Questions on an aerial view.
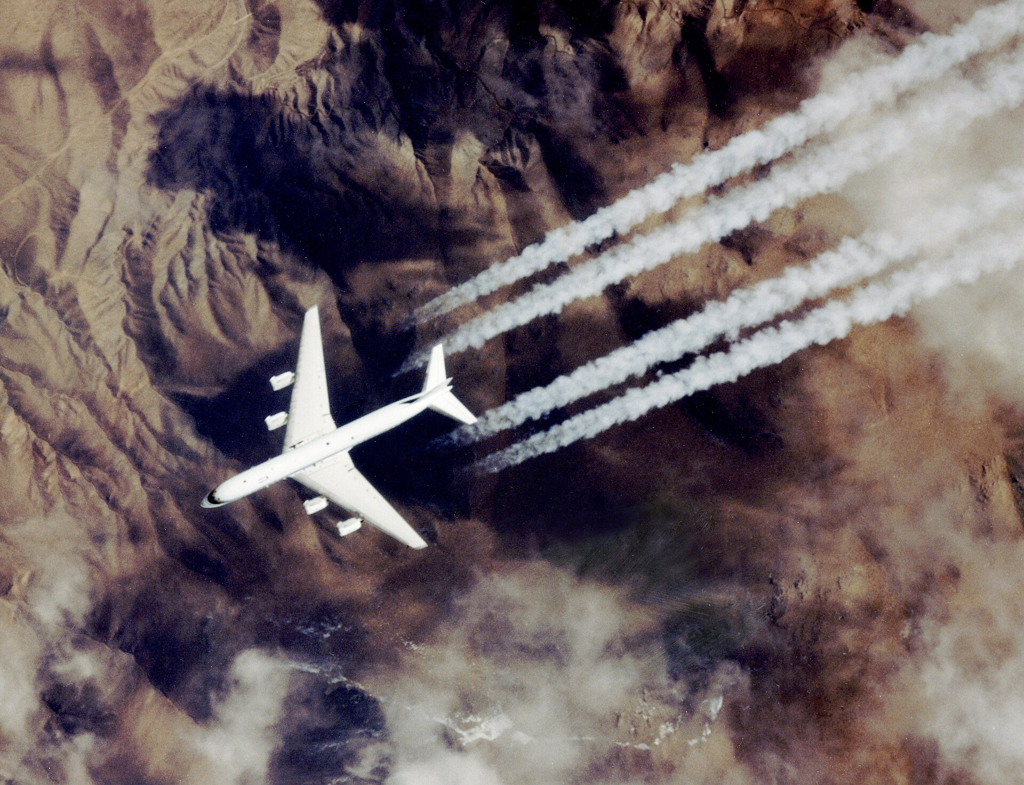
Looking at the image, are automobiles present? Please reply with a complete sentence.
No, there's no automobile here.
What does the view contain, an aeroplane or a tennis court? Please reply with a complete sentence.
Visible in the photo is an aeroplane.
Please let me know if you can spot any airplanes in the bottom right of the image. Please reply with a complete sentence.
No, the scene shows no airplane in the bottom right of the image.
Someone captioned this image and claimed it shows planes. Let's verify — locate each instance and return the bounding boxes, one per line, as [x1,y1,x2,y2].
[203,309,475,547]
